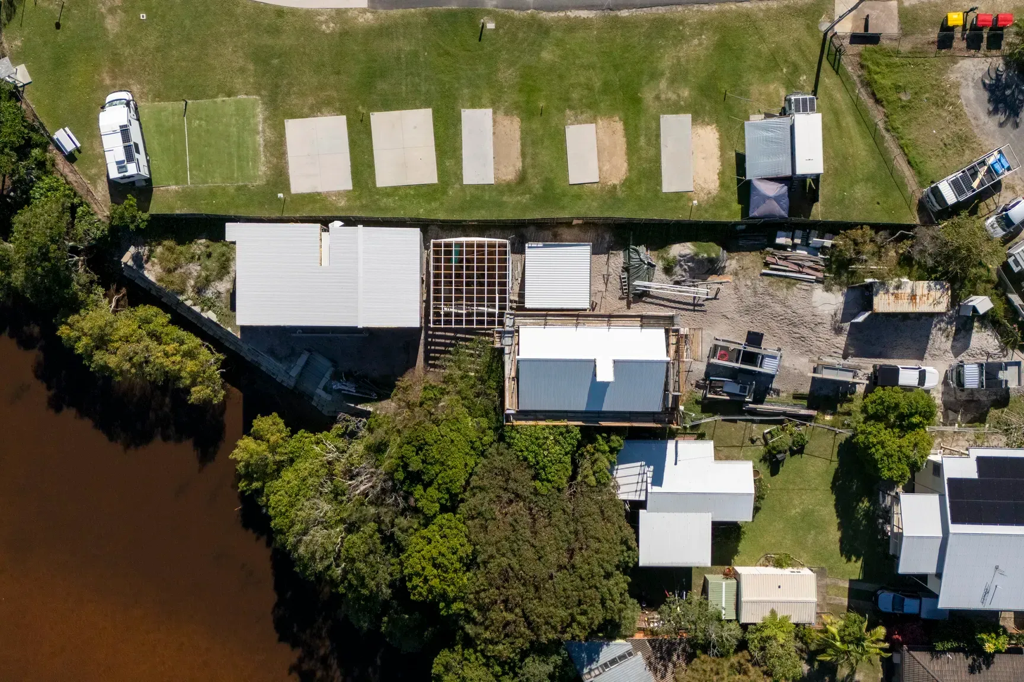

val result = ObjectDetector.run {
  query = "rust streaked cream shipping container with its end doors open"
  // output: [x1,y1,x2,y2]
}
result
[836,281,952,321]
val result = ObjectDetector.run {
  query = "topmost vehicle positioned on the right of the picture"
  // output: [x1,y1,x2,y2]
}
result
[782,94,818,118]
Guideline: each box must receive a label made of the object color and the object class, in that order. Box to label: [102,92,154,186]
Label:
white camper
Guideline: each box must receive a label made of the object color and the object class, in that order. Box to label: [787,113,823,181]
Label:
white vehicle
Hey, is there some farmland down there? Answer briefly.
No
